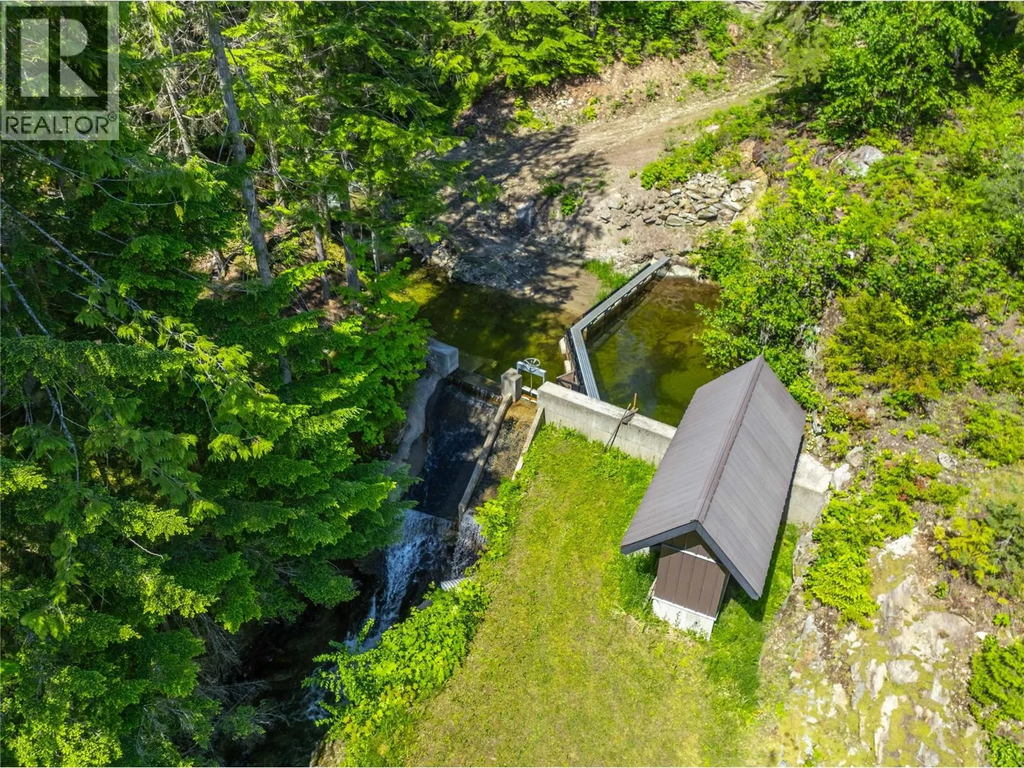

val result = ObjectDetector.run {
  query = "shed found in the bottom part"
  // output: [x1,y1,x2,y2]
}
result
[619,352,807,638]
